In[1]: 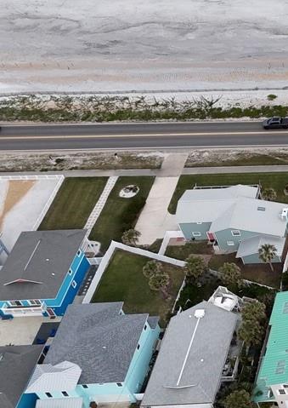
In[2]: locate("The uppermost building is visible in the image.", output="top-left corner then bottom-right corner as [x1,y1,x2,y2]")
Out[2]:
[168,180,288,268]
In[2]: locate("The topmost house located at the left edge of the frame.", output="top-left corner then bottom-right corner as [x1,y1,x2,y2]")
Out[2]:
[0,229,102,323]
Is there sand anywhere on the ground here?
Yes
